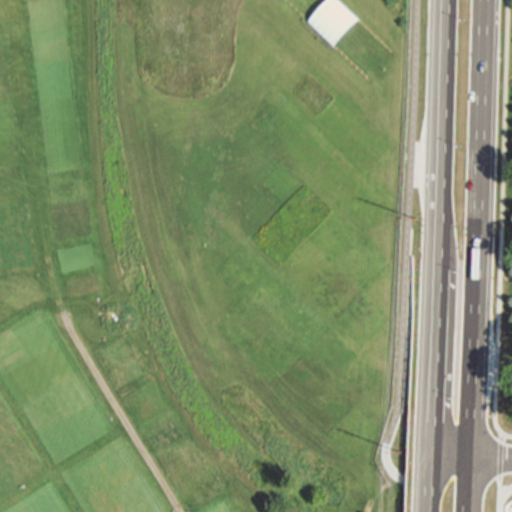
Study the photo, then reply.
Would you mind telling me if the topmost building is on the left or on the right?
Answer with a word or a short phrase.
right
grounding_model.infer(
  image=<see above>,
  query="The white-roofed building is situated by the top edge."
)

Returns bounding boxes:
[308,0,359,47]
